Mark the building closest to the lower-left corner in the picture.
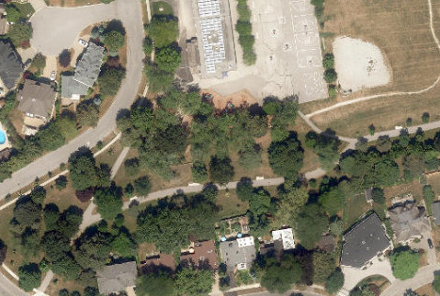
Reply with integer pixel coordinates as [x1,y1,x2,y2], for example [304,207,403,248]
[96,262,138,296]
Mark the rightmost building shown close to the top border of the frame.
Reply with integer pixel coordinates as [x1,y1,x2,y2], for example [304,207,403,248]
[188,0,238,77]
